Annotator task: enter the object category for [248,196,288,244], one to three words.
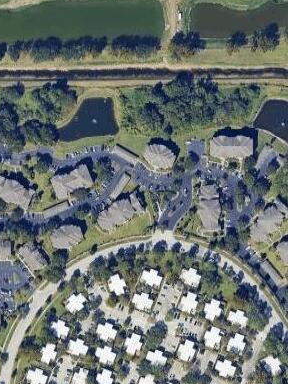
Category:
building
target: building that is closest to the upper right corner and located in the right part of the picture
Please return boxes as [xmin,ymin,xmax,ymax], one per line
[211,135,254,158]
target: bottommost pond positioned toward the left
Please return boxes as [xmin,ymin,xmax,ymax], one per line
[57,97,119,143]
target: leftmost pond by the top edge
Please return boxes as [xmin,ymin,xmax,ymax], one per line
[0,0,166,42]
